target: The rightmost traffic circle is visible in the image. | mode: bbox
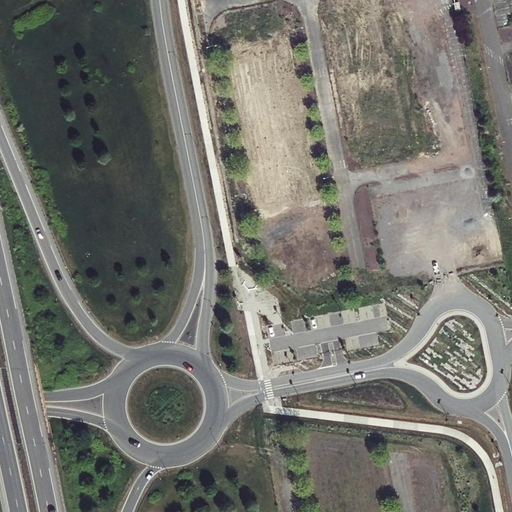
[374,274,512,498]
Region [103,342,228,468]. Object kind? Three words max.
roundabout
